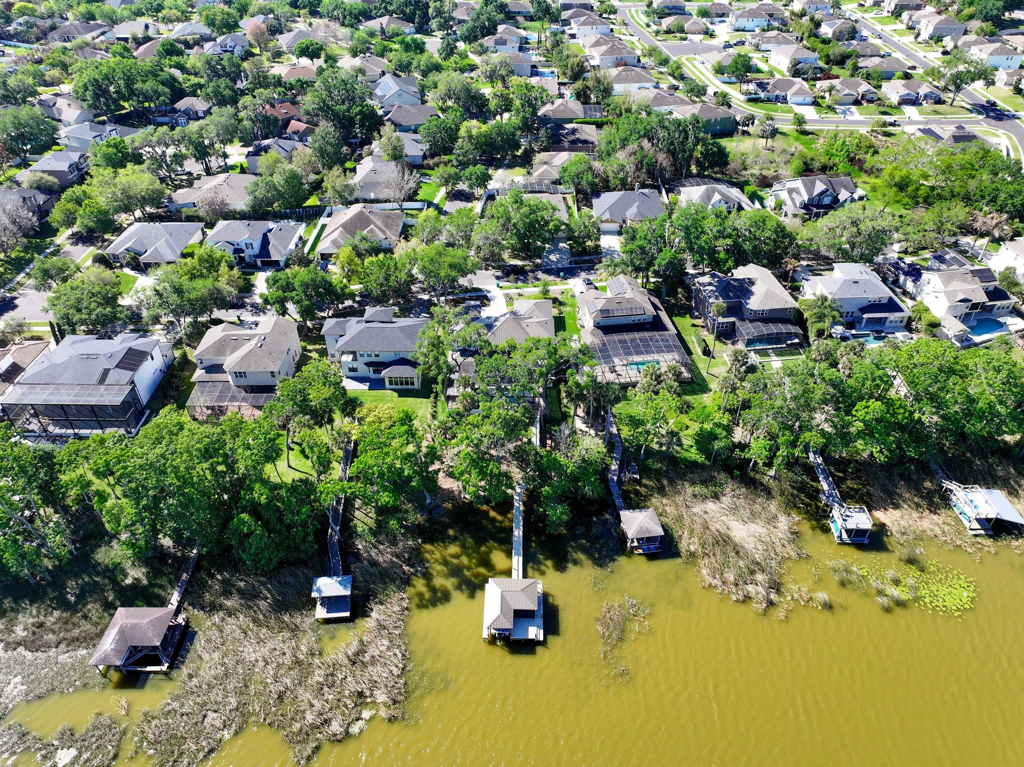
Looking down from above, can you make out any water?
Yes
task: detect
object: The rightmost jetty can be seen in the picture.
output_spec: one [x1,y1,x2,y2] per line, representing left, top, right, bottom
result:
[946,486,1024,537]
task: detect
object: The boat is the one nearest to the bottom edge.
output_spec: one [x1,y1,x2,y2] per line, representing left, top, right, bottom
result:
[492,629,508,647]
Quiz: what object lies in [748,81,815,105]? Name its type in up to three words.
house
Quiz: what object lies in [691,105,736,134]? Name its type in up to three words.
house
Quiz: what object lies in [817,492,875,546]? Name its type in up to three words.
pier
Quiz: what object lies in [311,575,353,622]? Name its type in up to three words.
pier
